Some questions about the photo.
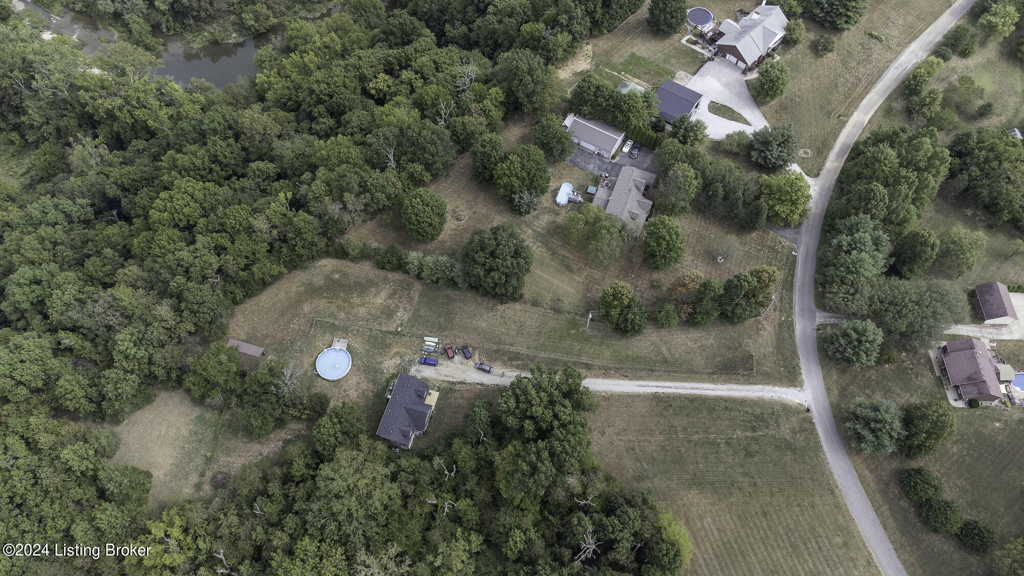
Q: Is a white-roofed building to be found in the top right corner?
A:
Yes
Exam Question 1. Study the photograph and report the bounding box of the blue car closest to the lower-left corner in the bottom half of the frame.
[419,356,439,368]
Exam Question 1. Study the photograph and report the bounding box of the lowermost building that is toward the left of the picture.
[375,373,439,449]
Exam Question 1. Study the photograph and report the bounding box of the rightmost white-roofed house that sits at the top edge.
[707,0,790,69]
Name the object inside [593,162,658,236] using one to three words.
house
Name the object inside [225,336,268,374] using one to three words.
shed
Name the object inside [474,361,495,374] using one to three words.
vehicle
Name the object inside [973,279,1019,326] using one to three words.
building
